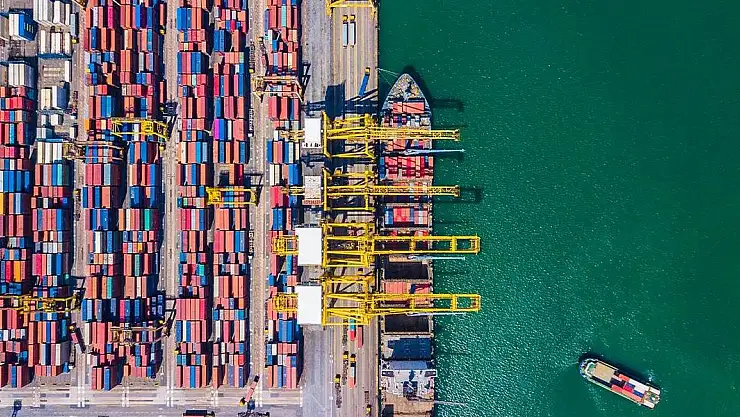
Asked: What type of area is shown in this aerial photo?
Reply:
port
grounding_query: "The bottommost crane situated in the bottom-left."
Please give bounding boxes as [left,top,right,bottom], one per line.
[111,315,171,345]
